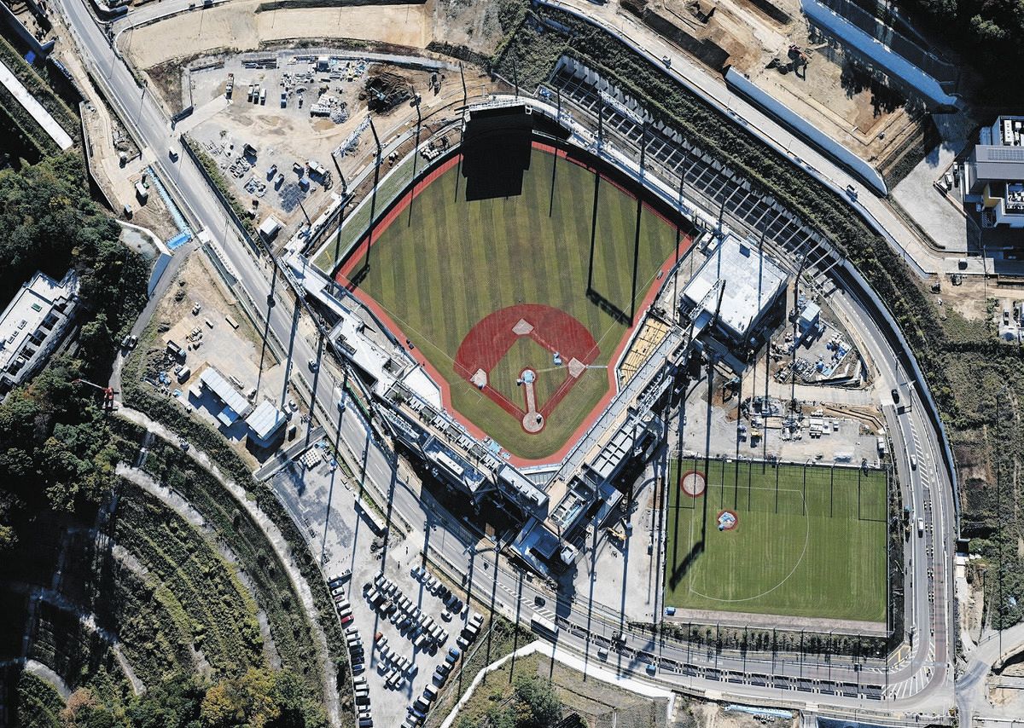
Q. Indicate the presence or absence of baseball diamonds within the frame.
Yes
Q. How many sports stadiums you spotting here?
1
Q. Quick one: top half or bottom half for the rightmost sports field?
bottom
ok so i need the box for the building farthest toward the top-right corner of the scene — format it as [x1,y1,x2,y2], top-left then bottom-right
[970,116,1024,223]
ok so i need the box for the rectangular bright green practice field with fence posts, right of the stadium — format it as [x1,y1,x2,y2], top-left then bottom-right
[665,459,887,623]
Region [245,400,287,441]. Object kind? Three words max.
building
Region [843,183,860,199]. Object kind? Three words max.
vehicle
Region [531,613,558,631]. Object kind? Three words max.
vehicle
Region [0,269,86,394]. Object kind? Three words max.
building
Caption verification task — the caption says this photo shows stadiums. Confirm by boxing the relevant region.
[283,94,748,586]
